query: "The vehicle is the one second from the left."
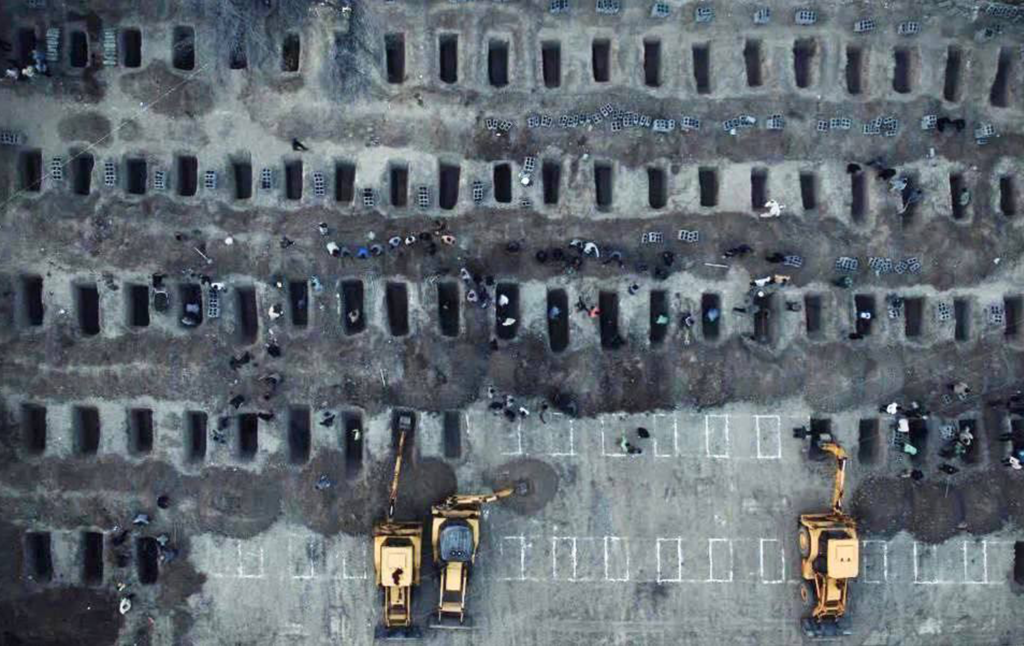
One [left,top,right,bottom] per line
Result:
[430,479,532,625]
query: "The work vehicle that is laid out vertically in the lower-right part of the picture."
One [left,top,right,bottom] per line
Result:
[801,430,860,642]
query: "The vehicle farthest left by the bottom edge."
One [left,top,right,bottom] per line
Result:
[374,413,427,640]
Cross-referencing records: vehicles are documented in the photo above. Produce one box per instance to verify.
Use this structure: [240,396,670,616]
[430,479,532,625]
[374,413,427,640]
[801,430,860,642]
